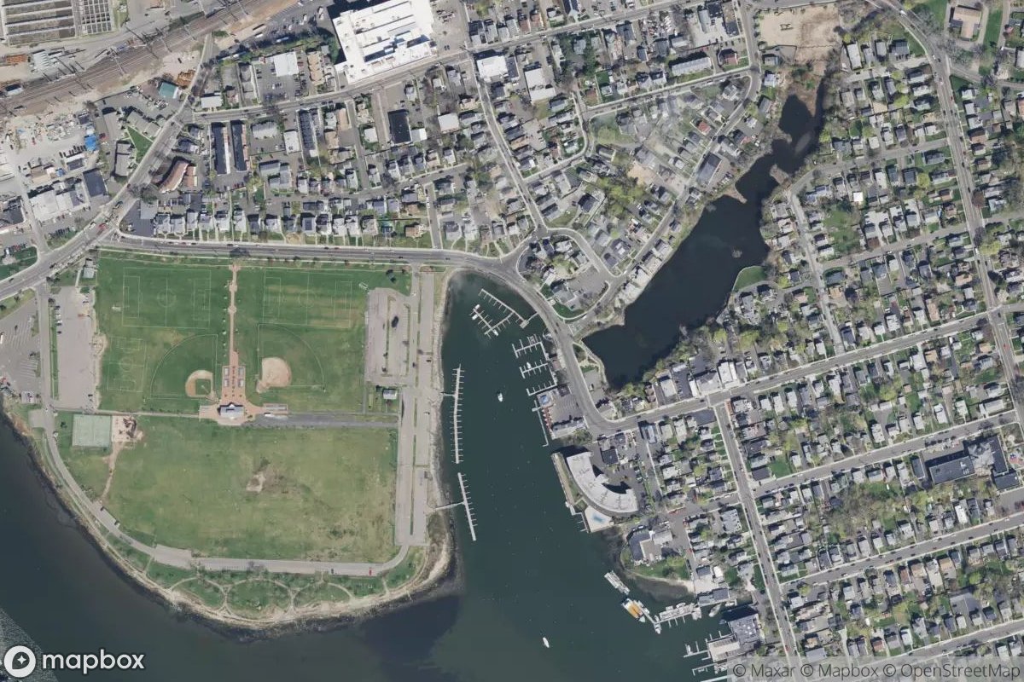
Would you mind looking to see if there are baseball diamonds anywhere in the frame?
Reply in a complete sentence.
Yes, a baseball diamond appears in the view.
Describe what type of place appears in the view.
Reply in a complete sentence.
This looks like a residential area.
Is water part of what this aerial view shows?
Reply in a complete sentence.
Yes, water can be seen from above here.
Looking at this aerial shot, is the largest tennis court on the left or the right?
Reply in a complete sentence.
You can find the largest tennis court on the left side of the picture.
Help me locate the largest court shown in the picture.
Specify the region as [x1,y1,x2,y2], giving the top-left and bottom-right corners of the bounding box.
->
[72,414,111,447]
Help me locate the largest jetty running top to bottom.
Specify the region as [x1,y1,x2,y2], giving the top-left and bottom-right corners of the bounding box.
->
[450,365,463,463]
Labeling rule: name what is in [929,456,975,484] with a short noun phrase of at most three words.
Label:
building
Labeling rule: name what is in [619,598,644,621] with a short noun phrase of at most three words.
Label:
ship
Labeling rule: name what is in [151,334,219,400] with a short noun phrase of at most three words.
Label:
baseball field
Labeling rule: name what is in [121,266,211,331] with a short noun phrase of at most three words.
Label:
soccer field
